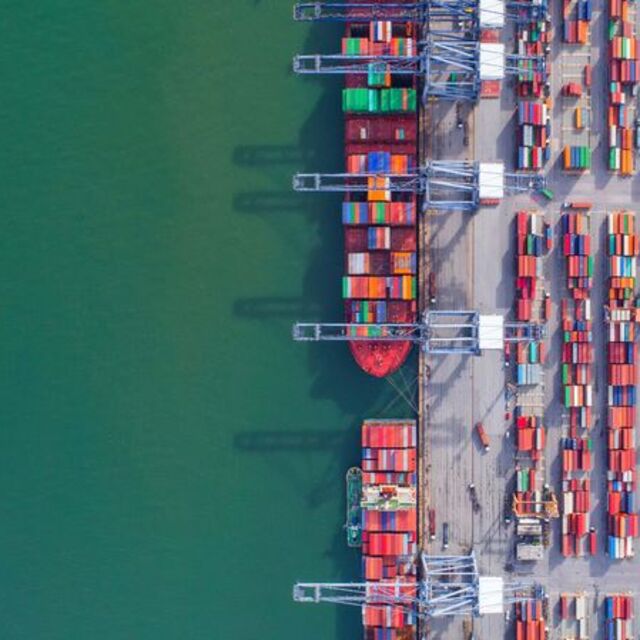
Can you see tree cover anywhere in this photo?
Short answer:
No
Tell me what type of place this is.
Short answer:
port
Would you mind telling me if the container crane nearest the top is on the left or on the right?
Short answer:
right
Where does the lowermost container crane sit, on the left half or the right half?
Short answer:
right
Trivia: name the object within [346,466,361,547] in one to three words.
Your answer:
ship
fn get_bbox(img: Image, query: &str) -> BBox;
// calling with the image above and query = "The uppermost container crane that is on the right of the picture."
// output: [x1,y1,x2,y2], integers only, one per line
[292,0,546,65]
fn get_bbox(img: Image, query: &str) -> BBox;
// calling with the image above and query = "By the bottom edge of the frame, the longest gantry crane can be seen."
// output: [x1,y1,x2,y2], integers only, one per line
[292,543,546,617]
